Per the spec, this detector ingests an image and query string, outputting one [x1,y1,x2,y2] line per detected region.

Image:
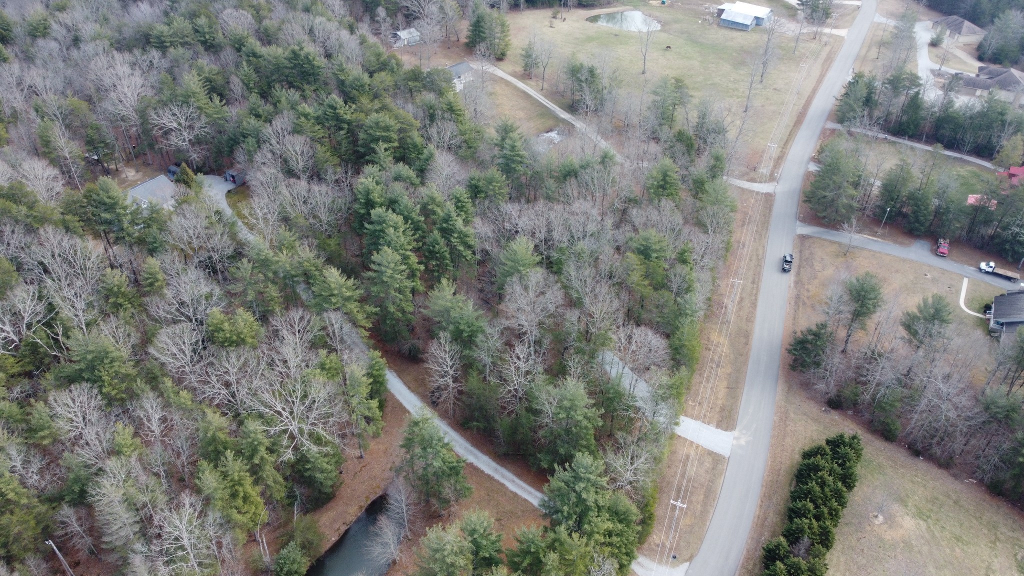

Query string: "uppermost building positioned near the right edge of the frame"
[930,15,988,41]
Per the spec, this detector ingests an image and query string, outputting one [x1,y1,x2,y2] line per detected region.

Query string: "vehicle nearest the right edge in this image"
[978,263,1024,284]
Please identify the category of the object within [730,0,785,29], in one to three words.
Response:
barn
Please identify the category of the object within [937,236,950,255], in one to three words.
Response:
vehicle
